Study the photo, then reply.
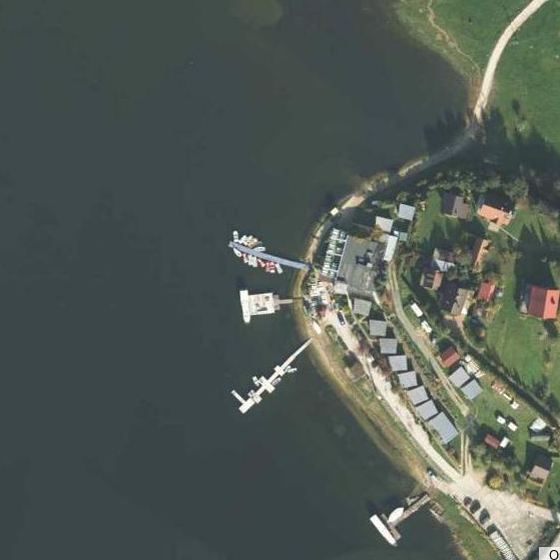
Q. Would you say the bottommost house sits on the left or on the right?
right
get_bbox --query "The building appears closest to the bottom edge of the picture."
[528,459,549,481]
